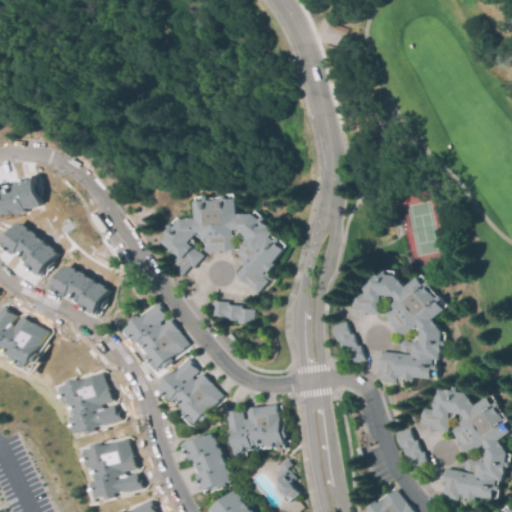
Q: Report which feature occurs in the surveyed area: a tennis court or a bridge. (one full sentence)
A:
It is a tennis court that can be seen here.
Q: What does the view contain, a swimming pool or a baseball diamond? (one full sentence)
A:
Of the two, only a swimming pool appears.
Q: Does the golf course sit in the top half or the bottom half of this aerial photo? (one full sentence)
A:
The golf course sits in the top half of the picture.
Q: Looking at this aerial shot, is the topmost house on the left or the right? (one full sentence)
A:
The topmost house appears in the left half of the scene.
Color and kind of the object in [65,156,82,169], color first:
white vehicle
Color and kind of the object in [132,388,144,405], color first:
white vehicle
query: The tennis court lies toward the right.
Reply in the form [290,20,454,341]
[406,194,446,264]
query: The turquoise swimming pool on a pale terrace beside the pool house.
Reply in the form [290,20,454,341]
[254,472,282,510]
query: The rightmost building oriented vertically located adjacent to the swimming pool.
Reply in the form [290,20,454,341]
[279,459,302,500]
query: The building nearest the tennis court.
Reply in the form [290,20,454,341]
[354,268,446,385]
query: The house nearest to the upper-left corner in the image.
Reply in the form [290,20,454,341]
[0,178,45,214]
